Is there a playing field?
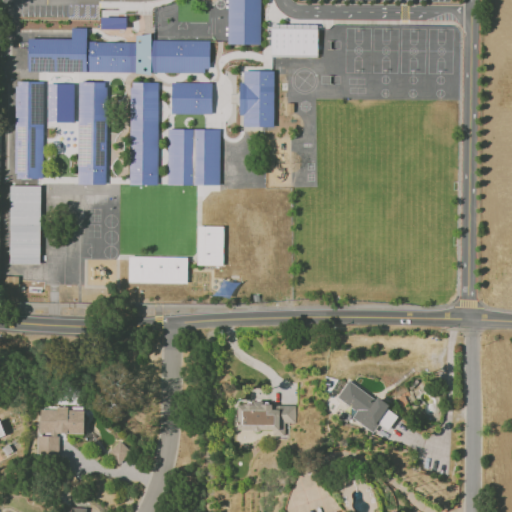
Yes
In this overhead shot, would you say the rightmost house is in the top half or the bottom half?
bottom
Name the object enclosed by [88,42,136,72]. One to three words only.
building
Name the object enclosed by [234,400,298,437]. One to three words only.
house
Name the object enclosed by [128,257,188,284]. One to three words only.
building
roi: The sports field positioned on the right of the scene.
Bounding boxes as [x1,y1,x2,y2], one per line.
[295,100,458,302]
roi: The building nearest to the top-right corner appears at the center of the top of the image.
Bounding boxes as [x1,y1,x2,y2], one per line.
[272,24,318,57]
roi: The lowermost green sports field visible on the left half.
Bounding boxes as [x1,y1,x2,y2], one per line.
[120,186,197,254]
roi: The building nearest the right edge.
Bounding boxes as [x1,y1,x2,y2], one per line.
[340,384,398,432]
